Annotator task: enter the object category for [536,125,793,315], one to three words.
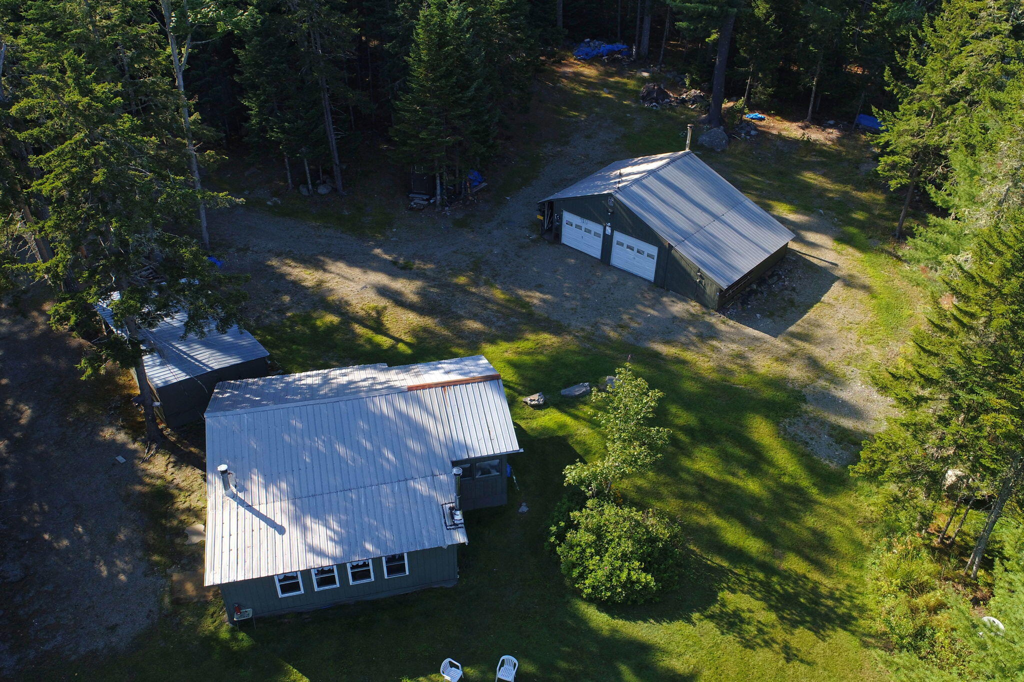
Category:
building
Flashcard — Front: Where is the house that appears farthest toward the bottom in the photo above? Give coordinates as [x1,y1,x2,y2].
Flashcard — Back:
[205,353,529,626]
